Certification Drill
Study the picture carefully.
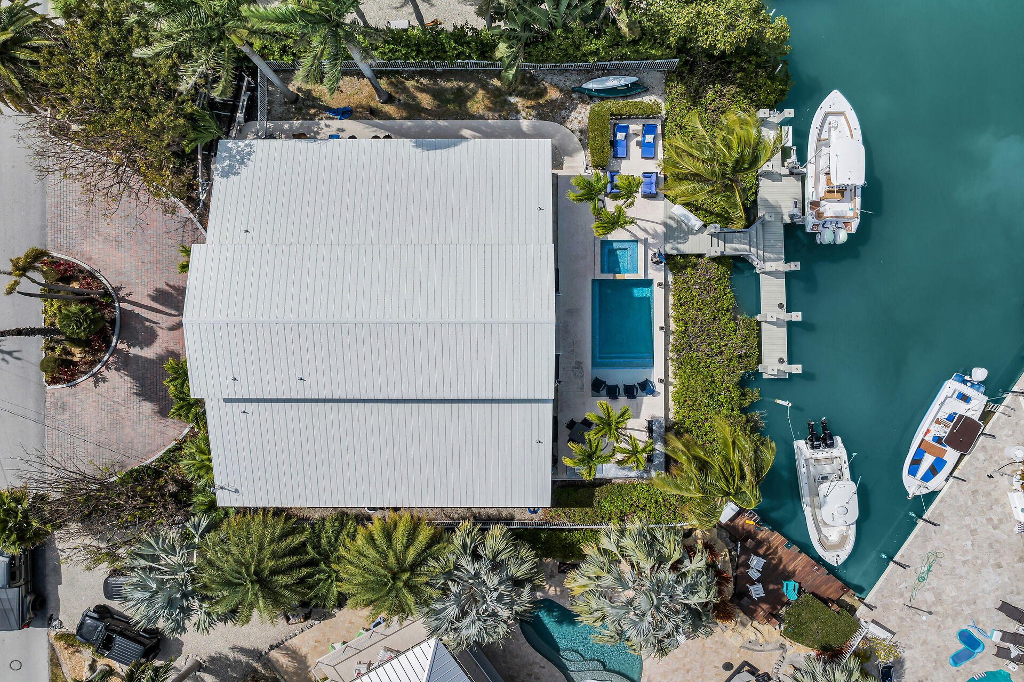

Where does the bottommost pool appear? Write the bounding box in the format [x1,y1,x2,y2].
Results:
[520,599,642,682]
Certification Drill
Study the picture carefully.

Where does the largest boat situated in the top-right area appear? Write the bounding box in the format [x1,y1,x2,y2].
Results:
[803,89,873,245]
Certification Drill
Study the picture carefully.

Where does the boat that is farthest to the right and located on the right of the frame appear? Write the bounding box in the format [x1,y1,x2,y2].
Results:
[903,367,989,500]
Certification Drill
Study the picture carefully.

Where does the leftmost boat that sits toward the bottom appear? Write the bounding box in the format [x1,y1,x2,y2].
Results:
[795,416,860,571]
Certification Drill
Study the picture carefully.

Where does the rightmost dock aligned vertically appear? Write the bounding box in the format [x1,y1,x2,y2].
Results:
[753,109,801,378]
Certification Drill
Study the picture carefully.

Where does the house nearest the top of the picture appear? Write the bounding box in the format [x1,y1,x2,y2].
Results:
[183,139,563,507]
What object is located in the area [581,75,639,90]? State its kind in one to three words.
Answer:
boat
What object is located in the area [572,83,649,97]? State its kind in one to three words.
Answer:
boat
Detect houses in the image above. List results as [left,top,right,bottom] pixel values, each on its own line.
[183,139,563,507]
[310,596,492,682]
